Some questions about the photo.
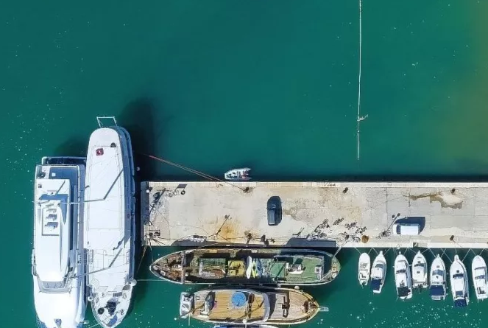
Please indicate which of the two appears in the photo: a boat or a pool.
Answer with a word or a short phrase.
boat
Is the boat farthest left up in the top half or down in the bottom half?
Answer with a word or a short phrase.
bottom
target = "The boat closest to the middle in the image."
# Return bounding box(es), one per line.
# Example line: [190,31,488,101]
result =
[225,167,255,180]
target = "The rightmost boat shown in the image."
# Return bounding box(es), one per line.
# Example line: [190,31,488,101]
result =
[471,248,488,299]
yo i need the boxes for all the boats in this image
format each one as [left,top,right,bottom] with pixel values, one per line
[180,238,343,327]
[429,249,448,303]
[393,248,413,301]
[411,248,428,291]
[445,249,470,308]
[225,167,255,180]
[181,292,192,321]
[369,248,386,296]
[148,237,343,285]
[358,248,370,289]
[30,152,88,328]
[471,248,488,299]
